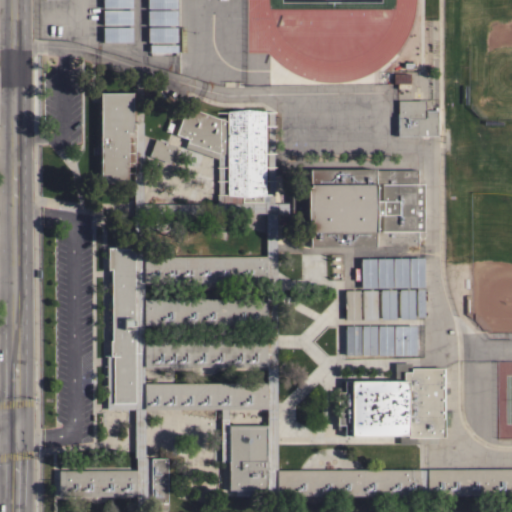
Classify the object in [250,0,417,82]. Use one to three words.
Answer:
running track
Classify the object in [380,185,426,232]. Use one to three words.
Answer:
building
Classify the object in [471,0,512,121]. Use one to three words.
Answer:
baseball field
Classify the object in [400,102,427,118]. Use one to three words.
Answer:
building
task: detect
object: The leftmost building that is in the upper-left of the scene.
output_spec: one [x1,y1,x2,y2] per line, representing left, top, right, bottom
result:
[102,93,136,180]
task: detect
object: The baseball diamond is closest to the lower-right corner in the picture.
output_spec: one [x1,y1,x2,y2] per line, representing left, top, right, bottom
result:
[473,194,512,334]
